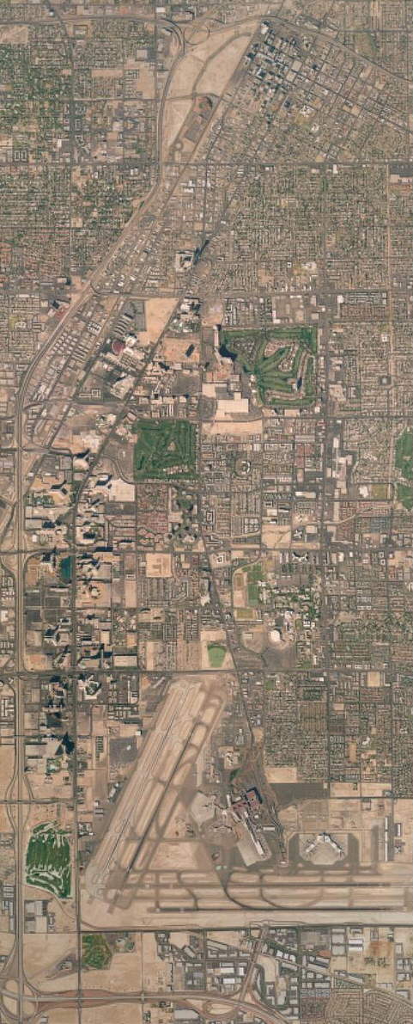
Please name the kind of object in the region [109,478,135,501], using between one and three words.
building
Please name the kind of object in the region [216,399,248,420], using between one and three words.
building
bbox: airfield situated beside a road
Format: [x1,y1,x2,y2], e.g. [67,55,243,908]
[82,676,413,927]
